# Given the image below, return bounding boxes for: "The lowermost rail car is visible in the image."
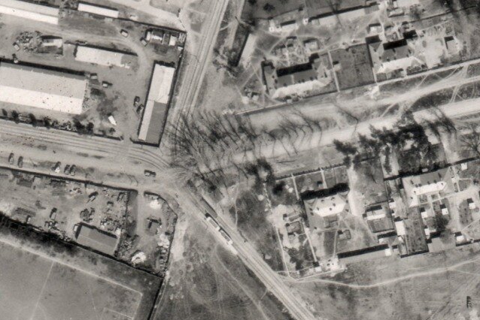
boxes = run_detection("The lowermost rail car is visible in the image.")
[220,228,234,246]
